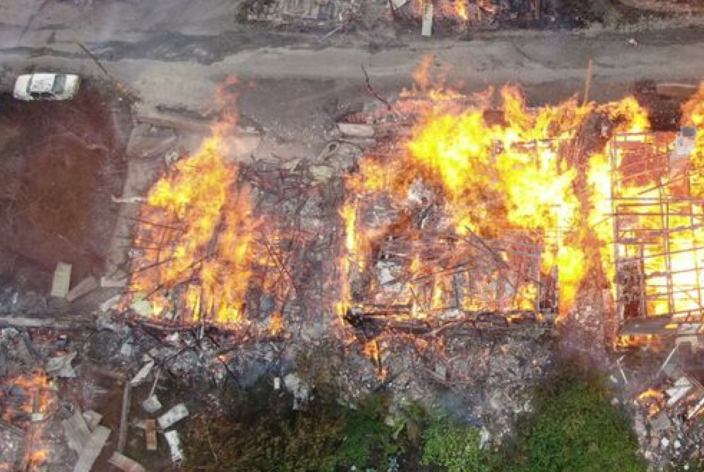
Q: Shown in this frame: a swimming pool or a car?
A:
car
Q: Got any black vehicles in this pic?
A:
No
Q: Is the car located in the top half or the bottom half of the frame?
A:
top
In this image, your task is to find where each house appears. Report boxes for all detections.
[336,128,588,333]
[442,0,532,41]
[120,170,344,343]
[606,124,704,353]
